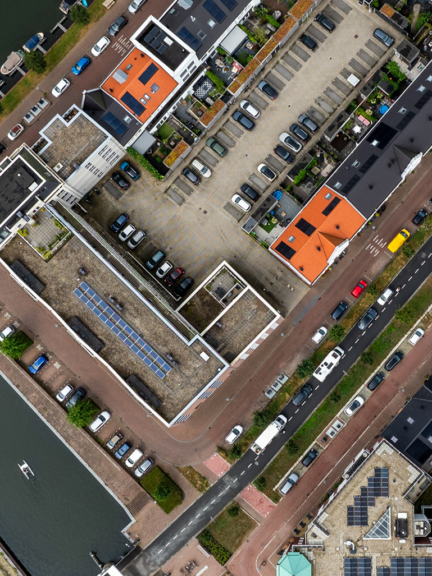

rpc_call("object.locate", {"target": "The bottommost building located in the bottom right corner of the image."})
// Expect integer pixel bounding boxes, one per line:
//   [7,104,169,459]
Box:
[278,437,432,576]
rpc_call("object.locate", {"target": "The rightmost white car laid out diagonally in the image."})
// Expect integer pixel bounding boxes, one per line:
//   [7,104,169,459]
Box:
[406,325,426,349]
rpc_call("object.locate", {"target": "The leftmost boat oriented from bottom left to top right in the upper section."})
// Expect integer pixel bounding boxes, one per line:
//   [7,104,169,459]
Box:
[0,47,25,75]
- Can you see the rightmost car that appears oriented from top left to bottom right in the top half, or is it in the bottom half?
top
